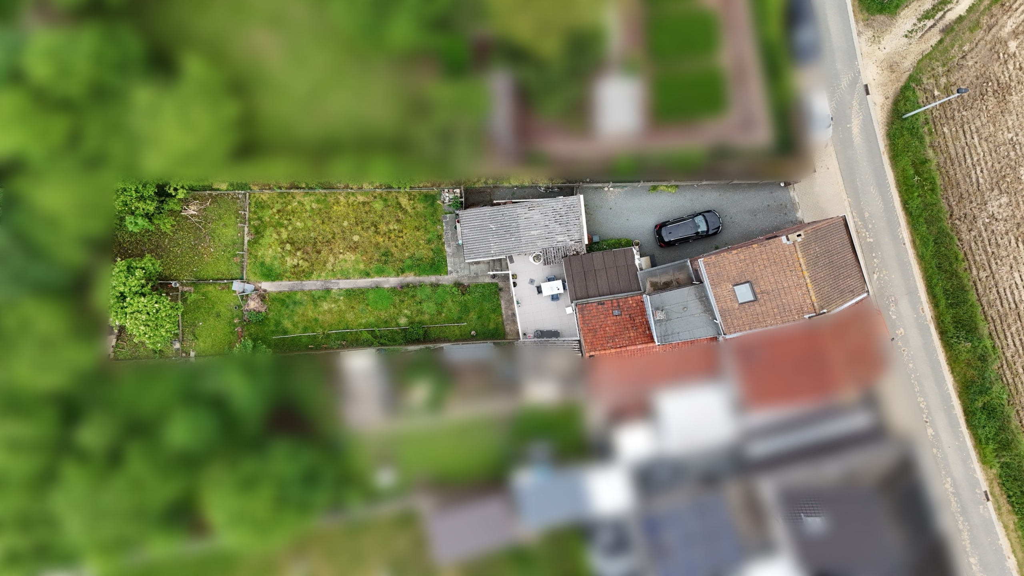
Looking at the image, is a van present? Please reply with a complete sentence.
Yes, looking at the shot, I can spot a van.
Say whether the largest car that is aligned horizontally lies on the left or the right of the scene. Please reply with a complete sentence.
You can find the largest car that is aligned horizontally on the right side of the picture.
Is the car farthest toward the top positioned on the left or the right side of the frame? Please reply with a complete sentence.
The car farthest toward the top is on the right side of the image.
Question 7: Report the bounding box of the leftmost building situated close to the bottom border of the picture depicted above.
[428,482,518,562]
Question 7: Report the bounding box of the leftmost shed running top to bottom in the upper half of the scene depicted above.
[493,71,514,169]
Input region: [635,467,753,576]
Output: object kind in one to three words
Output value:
house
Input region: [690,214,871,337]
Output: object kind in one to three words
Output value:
house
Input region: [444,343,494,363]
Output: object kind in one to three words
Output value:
shed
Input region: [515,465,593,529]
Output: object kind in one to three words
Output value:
building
